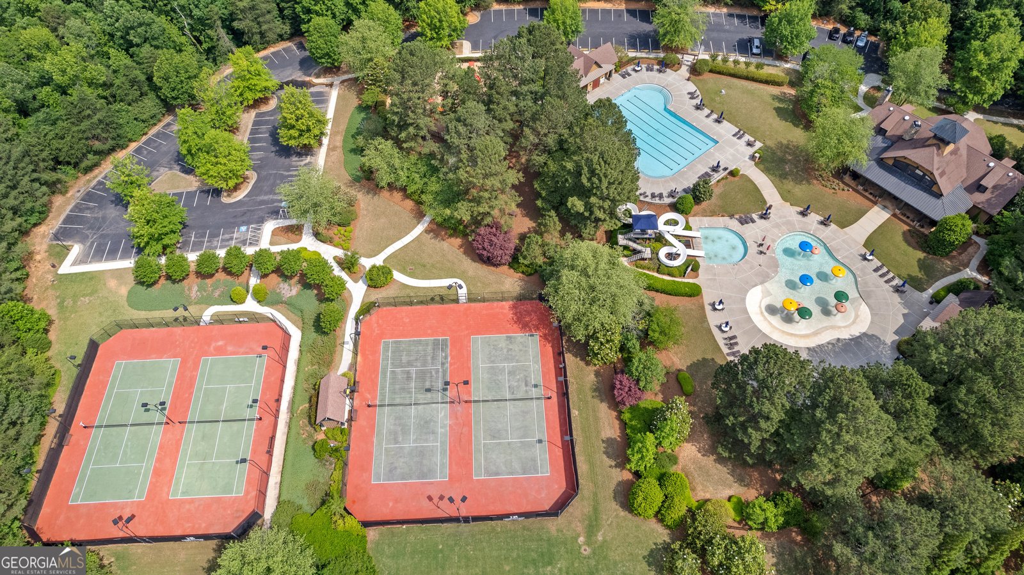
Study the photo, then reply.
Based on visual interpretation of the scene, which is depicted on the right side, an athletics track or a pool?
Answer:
pool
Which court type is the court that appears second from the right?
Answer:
tennis court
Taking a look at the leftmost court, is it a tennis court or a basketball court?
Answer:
tennis court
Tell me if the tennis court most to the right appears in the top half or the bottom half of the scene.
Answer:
bottom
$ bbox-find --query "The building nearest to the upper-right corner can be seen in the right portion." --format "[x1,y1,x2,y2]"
[830,87,1024,235]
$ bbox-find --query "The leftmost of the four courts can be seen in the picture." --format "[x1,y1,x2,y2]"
[33,326,199,542]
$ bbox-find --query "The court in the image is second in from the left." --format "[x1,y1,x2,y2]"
[147,323,290,538]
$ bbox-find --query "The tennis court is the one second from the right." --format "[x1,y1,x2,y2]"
[345,304,461,522]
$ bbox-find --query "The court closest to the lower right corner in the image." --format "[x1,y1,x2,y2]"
[460,300,577,519]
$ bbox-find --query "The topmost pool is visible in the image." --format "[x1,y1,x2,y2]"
[612,81,730,178]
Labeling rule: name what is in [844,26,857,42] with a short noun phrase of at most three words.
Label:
vehicle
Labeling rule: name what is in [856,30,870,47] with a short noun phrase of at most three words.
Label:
car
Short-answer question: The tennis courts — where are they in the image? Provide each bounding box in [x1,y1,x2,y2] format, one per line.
[33,326,199,542]
[147,323,290,538]
[460,300,577,519]
[345,304,461,522]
